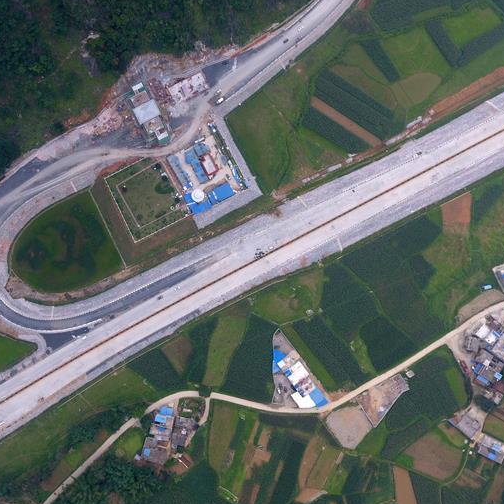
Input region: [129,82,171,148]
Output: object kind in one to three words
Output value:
building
